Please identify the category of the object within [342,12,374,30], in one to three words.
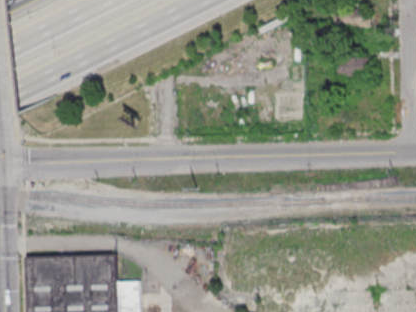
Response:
house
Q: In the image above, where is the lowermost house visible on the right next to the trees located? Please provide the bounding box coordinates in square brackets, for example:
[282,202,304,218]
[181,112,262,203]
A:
[338,56,371,77]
